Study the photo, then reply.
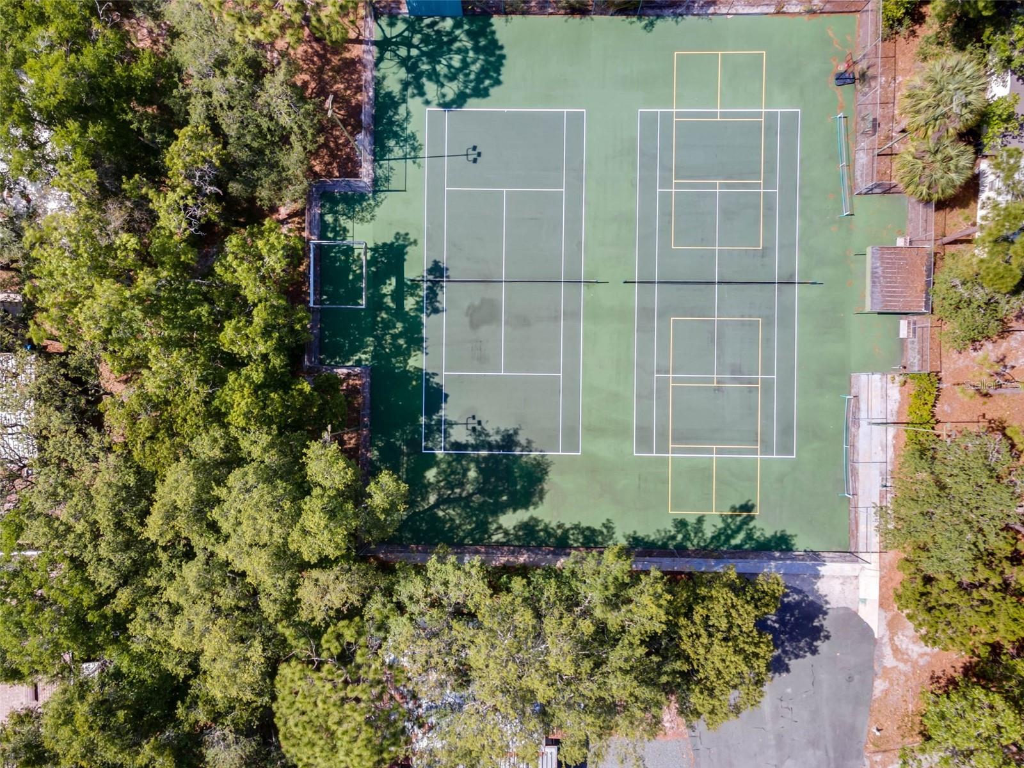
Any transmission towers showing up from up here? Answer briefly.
No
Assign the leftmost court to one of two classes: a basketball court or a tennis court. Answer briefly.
tennis court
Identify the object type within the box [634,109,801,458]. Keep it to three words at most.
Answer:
tennis court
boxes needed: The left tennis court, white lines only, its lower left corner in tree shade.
[422,109,586,455]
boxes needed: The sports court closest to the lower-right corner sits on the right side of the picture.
[669,318,762,514]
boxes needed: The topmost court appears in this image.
[672,51,765,248]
